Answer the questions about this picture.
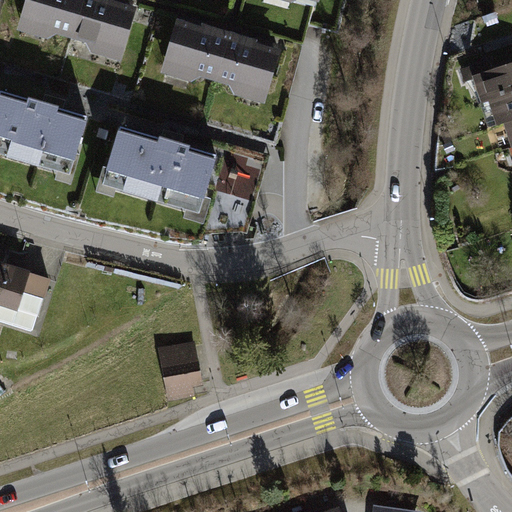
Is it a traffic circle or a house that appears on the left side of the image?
house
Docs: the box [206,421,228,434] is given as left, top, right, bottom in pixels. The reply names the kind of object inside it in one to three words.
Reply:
vehicle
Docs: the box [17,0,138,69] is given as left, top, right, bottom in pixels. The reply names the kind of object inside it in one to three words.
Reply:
house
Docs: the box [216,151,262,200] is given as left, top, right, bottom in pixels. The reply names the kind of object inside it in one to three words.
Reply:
building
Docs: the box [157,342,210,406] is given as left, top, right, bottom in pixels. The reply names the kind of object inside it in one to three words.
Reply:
barn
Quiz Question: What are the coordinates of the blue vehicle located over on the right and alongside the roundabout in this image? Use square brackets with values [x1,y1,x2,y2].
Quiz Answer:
[336,363,354,378]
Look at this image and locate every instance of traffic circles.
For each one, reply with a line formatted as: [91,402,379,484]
[349,305,488,444]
